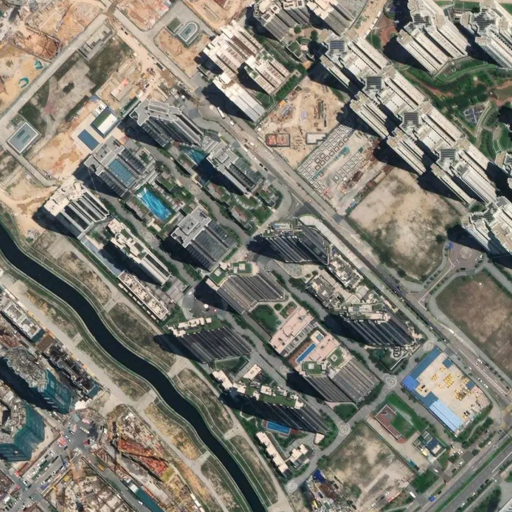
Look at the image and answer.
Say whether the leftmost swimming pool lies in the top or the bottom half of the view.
top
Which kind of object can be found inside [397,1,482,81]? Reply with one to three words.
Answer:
building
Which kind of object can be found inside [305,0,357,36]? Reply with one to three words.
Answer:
building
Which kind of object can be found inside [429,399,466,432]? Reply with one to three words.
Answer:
shed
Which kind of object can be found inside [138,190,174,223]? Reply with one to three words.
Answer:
swimming pool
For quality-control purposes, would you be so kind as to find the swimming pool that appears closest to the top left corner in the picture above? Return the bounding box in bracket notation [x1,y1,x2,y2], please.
[74,126,102,153]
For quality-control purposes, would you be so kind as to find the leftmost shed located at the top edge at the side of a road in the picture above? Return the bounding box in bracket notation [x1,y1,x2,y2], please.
[78,24,112,61]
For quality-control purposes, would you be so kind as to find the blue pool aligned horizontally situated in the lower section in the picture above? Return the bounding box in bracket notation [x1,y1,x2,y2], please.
[263,418,294,437]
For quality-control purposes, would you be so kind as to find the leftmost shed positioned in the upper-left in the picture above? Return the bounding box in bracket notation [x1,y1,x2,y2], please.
[8,124,42,154]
